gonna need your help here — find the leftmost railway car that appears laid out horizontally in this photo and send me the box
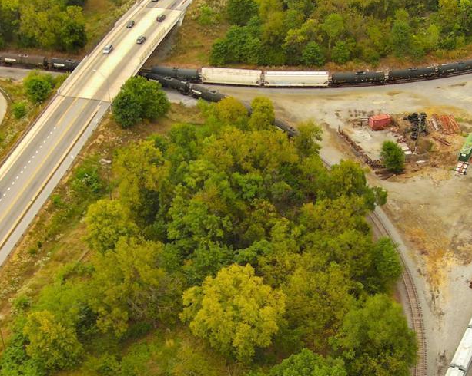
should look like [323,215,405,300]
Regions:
[5,48,53,67]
